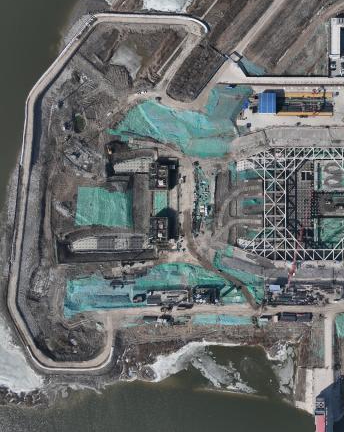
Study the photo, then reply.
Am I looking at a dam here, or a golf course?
dam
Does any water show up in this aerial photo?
Yes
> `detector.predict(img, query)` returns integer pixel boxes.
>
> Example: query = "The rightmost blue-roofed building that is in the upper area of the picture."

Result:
[258,93,277,116]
